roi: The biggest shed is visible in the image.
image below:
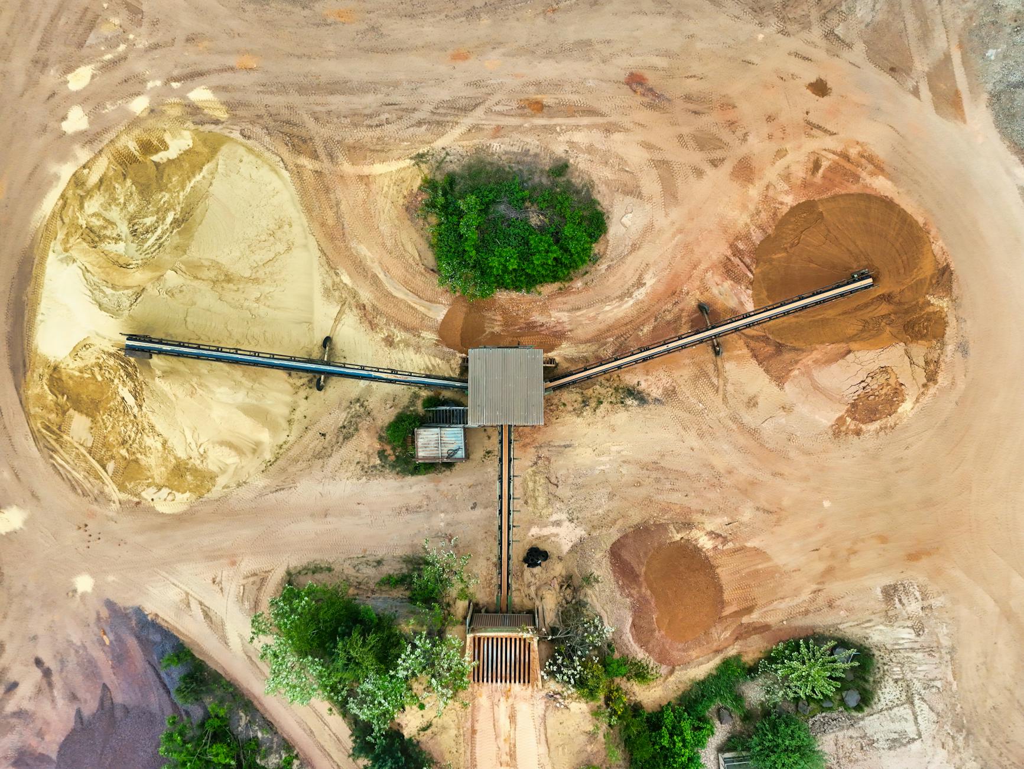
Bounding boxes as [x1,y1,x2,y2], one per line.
[460,342,557,427]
